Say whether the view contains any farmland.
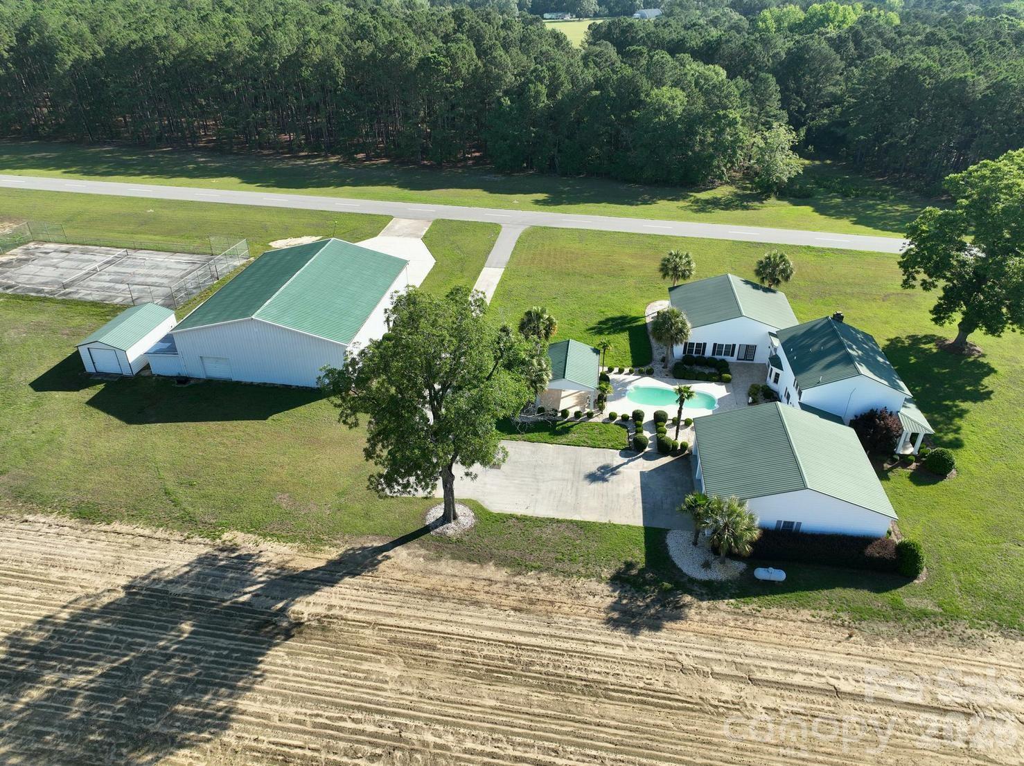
Yes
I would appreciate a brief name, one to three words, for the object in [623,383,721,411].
swimming pool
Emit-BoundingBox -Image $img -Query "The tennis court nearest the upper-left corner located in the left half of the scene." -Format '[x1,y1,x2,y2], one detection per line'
[0,239,247,310]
